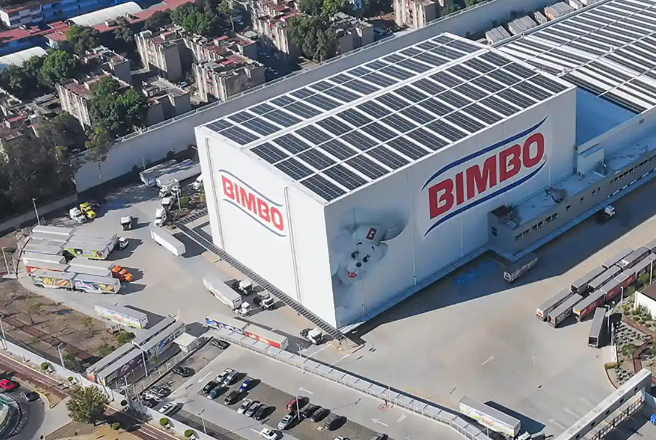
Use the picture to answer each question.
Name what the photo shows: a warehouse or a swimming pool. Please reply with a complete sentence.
The image shows a warehouse.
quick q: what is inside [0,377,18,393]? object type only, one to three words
car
